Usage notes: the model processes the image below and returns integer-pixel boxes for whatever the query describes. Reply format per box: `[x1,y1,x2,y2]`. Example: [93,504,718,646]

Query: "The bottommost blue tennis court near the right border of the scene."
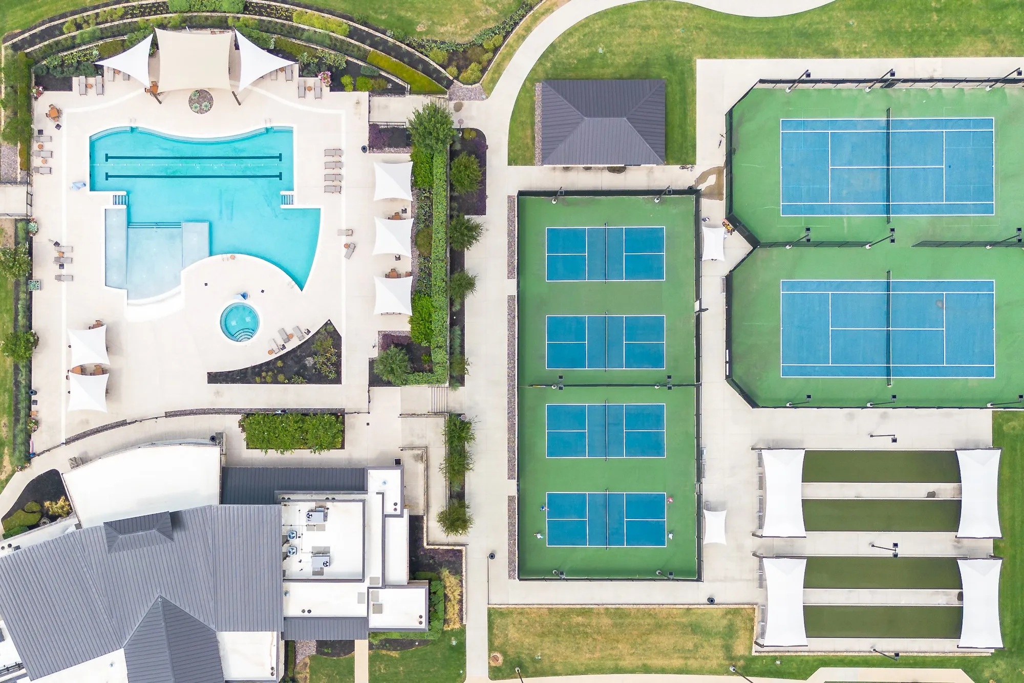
[781,280,995,378]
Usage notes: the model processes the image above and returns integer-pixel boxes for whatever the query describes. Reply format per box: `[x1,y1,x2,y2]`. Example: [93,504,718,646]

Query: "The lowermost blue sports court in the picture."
[546,492,665,547]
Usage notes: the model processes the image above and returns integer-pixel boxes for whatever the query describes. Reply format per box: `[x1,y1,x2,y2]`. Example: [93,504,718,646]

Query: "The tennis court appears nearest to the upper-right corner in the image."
[781,107,995,226]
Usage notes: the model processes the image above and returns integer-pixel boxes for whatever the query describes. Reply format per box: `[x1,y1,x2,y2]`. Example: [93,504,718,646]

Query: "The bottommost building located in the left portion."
[0,433,430,683]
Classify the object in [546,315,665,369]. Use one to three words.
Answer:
sports court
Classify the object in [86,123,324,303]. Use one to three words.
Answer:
swimming pool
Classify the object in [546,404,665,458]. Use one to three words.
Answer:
sports court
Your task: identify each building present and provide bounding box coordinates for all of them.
[541,78,666,168]
[0,433,430,683]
